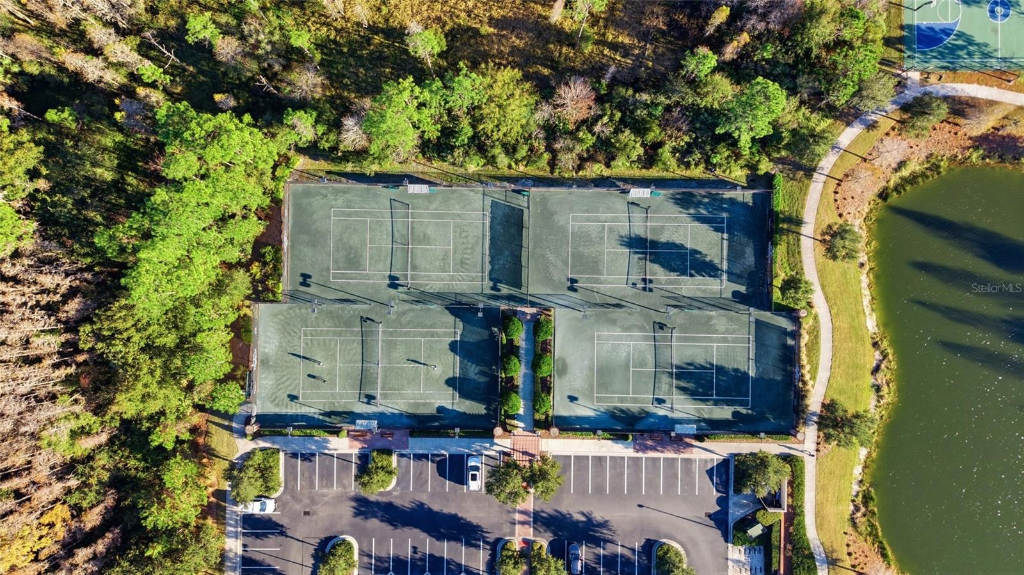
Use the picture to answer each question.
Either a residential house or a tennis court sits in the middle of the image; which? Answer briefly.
tennis court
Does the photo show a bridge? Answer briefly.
No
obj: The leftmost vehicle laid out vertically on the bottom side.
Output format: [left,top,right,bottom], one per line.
[466,457,482,491]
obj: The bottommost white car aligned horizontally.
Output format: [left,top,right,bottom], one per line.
[241,500,274,516]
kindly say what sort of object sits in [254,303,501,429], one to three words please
tennis court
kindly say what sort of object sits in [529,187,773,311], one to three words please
tennis court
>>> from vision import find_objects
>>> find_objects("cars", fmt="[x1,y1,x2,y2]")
[568,544,584,575]
[241,500,274,516]
[466,457,482,491]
